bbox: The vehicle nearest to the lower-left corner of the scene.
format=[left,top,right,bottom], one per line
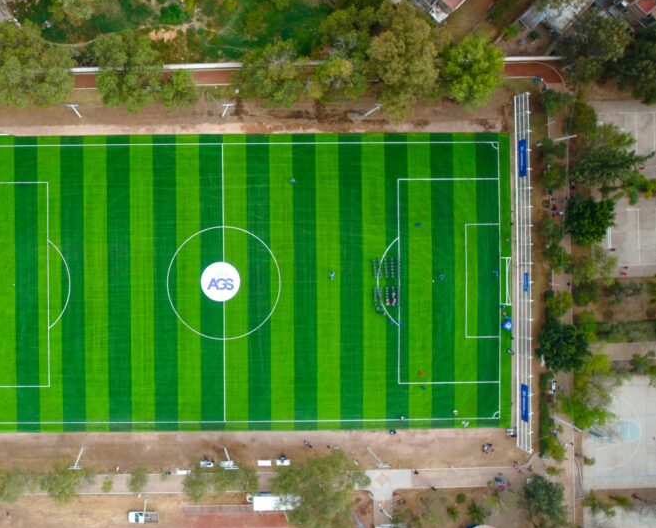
[128,512,158,527]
